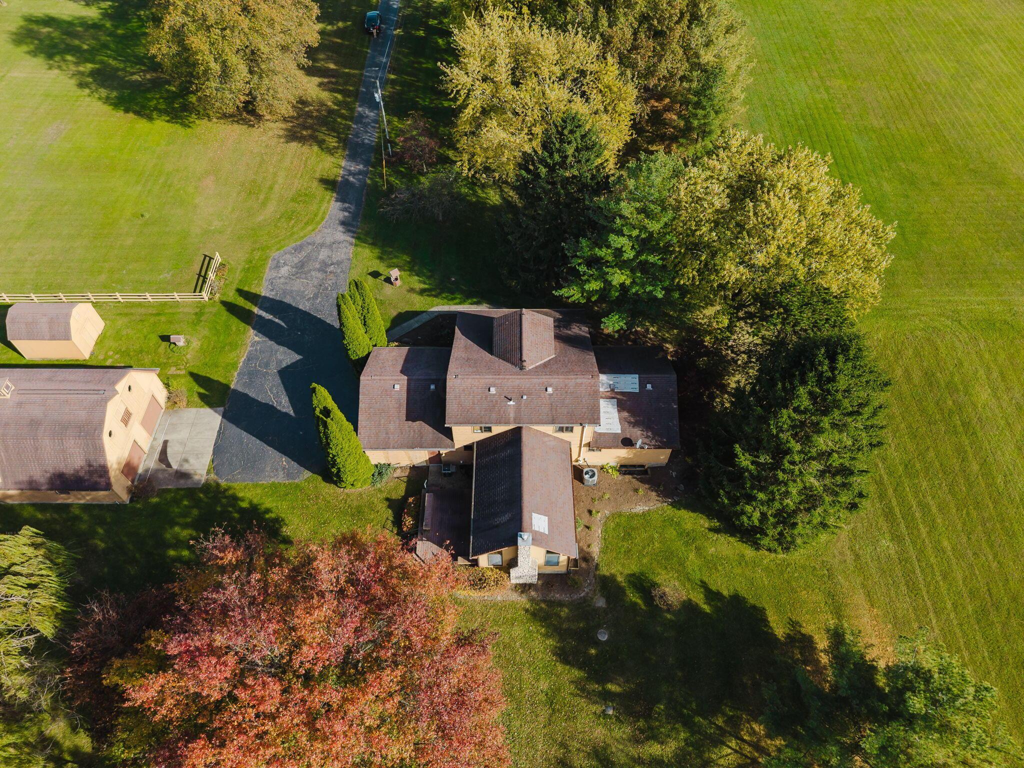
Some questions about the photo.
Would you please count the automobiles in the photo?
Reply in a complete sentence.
Just 1 automobile appears in this view.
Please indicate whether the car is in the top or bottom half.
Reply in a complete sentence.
Seen from above, the car lies in the top half of the view.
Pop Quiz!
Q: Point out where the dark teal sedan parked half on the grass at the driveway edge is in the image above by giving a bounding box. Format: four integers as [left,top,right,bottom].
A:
[365,10,385,32]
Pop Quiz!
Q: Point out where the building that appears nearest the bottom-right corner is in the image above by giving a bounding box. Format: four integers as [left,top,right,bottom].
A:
[358,309,679,583]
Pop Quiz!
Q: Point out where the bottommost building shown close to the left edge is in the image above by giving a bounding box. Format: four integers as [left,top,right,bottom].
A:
[0,368,171,505]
